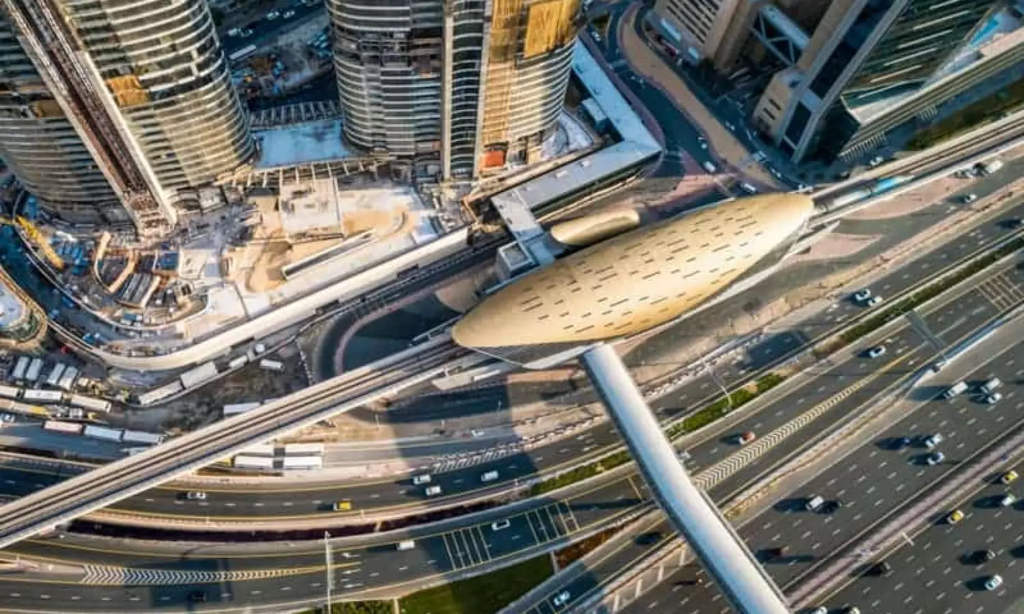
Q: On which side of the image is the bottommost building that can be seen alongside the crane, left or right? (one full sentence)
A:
The bottommost building that can be seen alongside the crane appears in the left half of the scene.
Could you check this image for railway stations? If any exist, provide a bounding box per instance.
[408,192,841,391]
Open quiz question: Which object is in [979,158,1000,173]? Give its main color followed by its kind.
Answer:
white vehicle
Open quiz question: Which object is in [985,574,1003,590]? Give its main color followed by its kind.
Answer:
white car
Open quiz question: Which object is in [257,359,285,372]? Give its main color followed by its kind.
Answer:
white vehicle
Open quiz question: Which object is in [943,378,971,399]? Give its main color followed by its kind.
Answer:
white truck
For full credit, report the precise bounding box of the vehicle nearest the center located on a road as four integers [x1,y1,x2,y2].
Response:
[478,469,501,482]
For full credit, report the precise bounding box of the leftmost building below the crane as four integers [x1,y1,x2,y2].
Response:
[0,263,57,357]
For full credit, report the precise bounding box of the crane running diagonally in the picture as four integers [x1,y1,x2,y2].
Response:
[11,213,70,272]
